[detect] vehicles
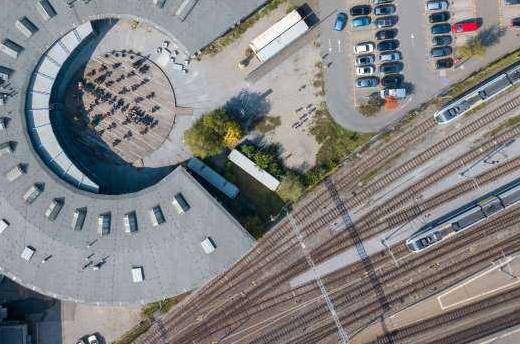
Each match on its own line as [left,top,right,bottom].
[374,4,396,14]
[229,149,278,190]
[334,12,347,31]
[381,88,406,98]
[429,11,450,22]
[381,76,404,86]
[355,76,379,86]
[84,329,99,344]
[431,46,452,57]
[188,156,239,198]
[356,65,374,75]
[452,21,479,33]
[375,16,398,28]
[431,23,451,33]
[380,63,403,73]
[376,29,398,39]
[377,40,400,50]
[351,5,371,15]
[379,51,402,62]
[432,35,452,45]
[509,19,520,27]
[427,0,449,10]
[352,16,372,26]
[354,43,375,53]
[356,54,376,64]
[436,59,453,68]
